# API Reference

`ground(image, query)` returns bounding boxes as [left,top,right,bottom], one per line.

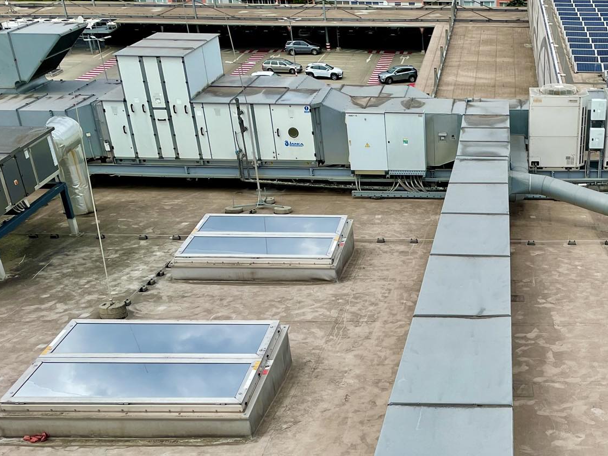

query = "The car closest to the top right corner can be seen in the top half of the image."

[401,27,418,41]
